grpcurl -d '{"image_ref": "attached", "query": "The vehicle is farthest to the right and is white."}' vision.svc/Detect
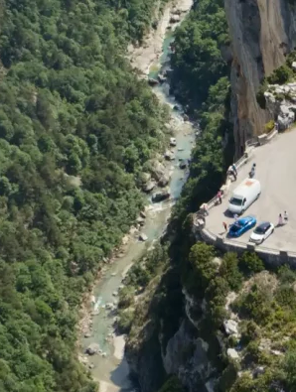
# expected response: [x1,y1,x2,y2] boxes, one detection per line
[248,216,276,242]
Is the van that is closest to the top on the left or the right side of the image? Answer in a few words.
right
